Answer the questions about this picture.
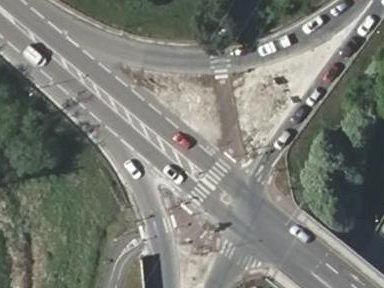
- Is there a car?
Yes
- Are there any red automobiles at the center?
Yes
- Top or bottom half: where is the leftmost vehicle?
top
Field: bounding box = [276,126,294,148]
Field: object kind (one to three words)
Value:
car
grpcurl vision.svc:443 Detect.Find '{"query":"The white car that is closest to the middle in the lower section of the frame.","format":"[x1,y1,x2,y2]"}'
[163,165,184,184]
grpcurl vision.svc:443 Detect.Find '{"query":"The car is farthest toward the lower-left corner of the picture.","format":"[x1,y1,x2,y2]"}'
[124,160,142,180]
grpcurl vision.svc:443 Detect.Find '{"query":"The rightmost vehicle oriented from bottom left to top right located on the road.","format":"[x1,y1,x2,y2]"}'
[358,13,378,34]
